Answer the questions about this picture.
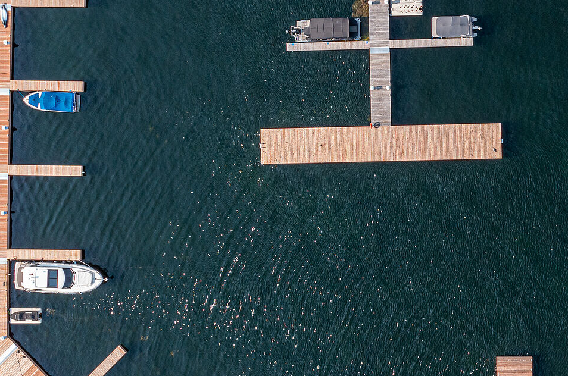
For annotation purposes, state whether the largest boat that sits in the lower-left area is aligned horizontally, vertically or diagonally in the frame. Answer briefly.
horizontally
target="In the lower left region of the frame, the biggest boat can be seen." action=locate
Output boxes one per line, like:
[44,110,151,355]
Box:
[14,261,106,295]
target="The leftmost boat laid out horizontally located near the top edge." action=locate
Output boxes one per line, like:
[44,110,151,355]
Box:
[289,16,361,42]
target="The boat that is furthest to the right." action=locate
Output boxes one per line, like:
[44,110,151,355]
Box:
[431,14,480,40]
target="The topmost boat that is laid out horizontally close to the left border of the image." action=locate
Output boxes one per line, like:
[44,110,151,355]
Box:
[22,90,82,111]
